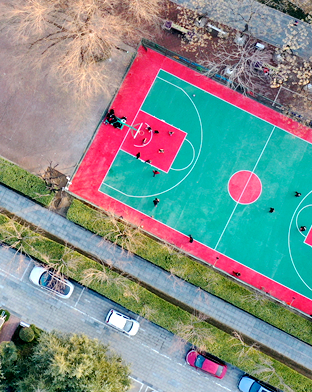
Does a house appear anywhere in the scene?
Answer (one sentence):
No, no house can be seen from above.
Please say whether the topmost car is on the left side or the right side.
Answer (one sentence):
You can find the topmost car on the left side of the picture.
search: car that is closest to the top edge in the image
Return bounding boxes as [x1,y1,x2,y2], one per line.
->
[28,266,76,301]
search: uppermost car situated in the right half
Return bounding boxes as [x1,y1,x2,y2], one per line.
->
[183,346,230,380]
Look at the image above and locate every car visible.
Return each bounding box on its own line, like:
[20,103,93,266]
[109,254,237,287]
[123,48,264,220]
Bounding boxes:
[101,305,142,336]
[183,346,230,380]
[235,374,277,392]
[28,266,76,301]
